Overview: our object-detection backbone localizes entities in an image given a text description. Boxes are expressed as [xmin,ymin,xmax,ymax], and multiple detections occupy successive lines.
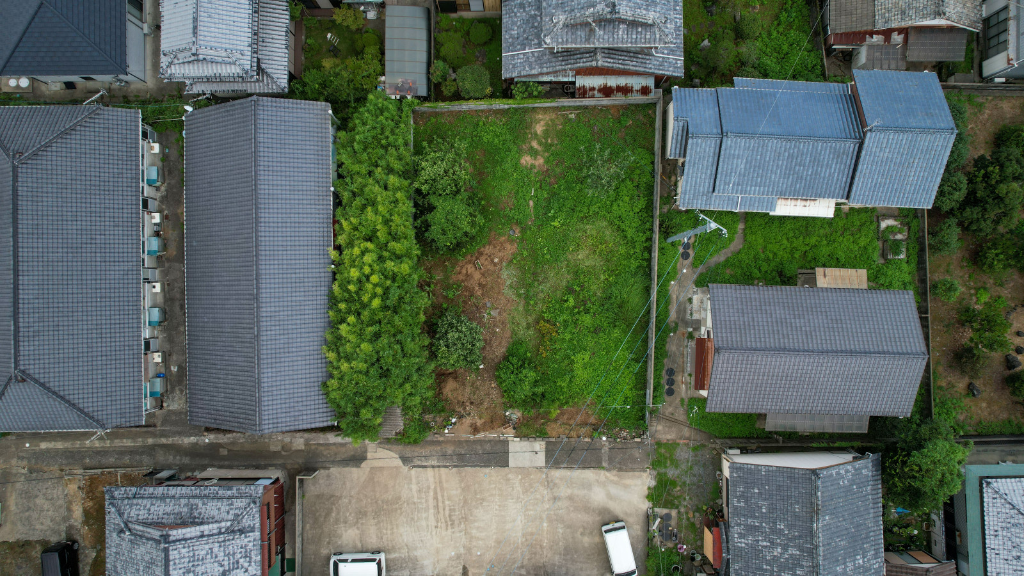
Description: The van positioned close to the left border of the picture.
[41,536,83,576]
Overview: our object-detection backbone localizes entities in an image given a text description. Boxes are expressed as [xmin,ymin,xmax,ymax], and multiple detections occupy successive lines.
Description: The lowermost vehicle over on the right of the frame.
[602,522,638,576]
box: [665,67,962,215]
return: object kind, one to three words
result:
house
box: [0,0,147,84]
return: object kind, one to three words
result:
house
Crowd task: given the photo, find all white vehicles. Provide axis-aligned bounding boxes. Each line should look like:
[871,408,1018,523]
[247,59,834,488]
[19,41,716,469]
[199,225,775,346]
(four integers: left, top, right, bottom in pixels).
[602,522,638,576]
[330,554,387,576]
